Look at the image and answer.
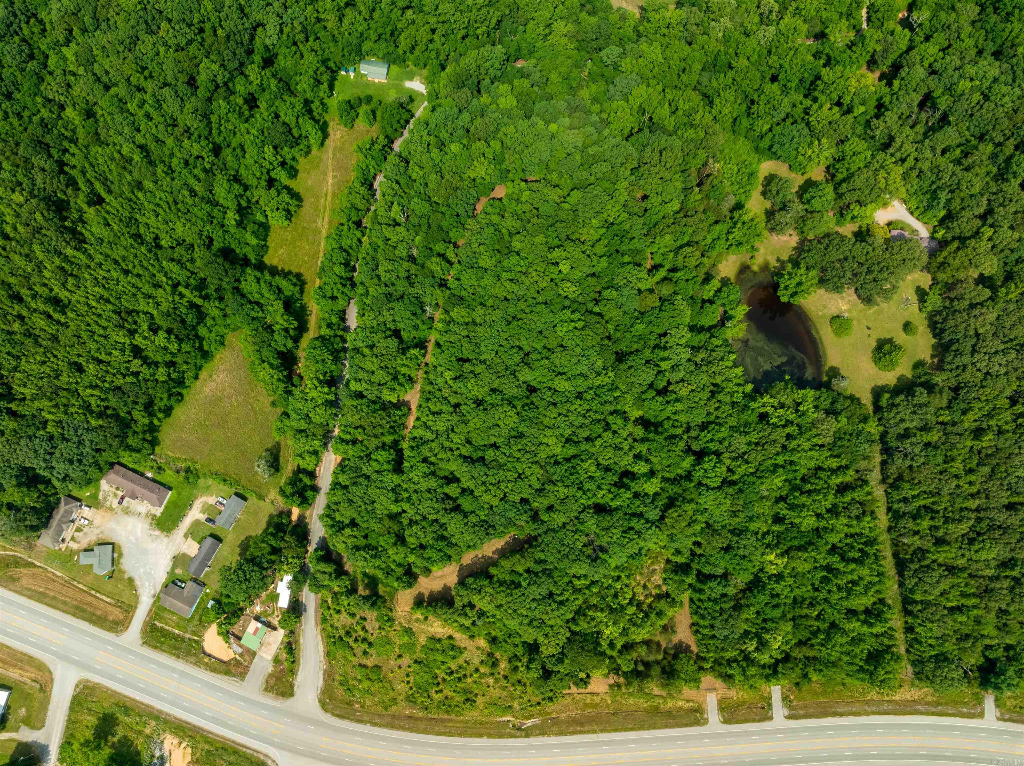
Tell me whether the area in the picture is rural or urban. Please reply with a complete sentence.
The area shown here is rural.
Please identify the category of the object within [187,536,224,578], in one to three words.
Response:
house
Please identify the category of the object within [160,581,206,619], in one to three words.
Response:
house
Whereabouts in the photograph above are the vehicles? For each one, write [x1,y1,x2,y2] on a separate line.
[78,517,89,525]
[259,617,269,625]
[118,495,126,505]
[81,505,92,511]
[206,517,216,524]
[175,579,185,587]
[217,496,227,503]
[215,503,225,509]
